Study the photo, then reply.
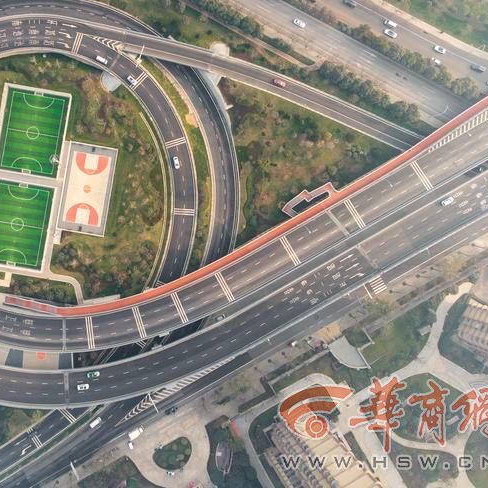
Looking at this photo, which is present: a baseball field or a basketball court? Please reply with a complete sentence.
I can see a basketball court in this picture.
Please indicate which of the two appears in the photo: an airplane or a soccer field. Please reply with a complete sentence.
I can see a soccer field in this picture.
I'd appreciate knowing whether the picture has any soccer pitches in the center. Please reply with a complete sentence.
No, no soccer pitch can be made out in the center.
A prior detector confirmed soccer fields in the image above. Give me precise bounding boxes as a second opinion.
[0,180,54,270]
[0,87,69,180]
